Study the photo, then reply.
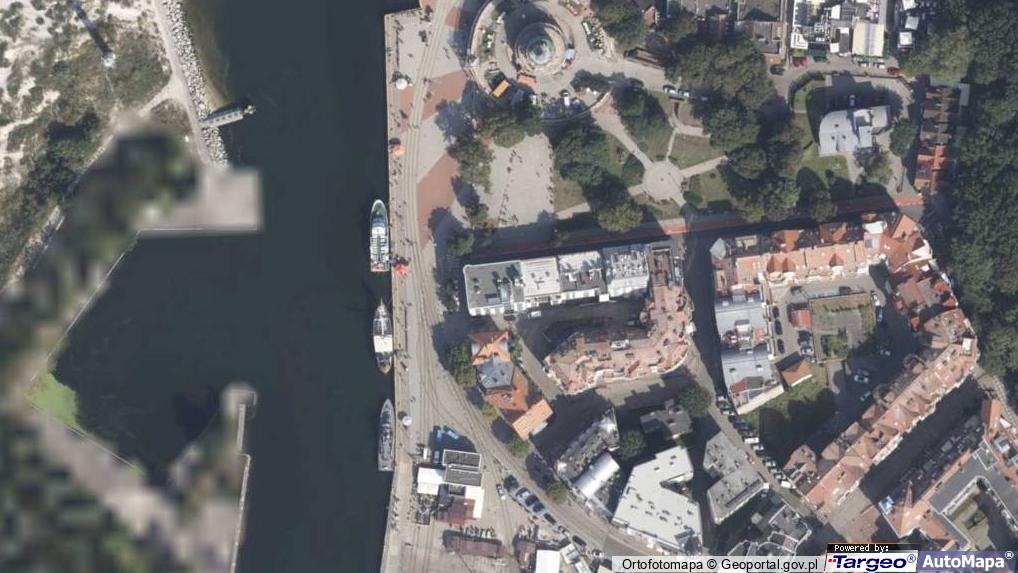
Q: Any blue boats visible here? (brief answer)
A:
No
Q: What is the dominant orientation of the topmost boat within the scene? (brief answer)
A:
from top to bottom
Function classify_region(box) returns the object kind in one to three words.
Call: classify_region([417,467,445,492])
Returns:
tent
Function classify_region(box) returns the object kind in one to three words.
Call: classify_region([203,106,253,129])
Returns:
pier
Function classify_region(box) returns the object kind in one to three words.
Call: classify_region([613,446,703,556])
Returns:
building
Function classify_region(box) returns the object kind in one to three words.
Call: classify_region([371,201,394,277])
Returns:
boat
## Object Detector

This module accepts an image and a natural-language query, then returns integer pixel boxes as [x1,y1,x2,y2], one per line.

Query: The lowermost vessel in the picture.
[379,401,397,478]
